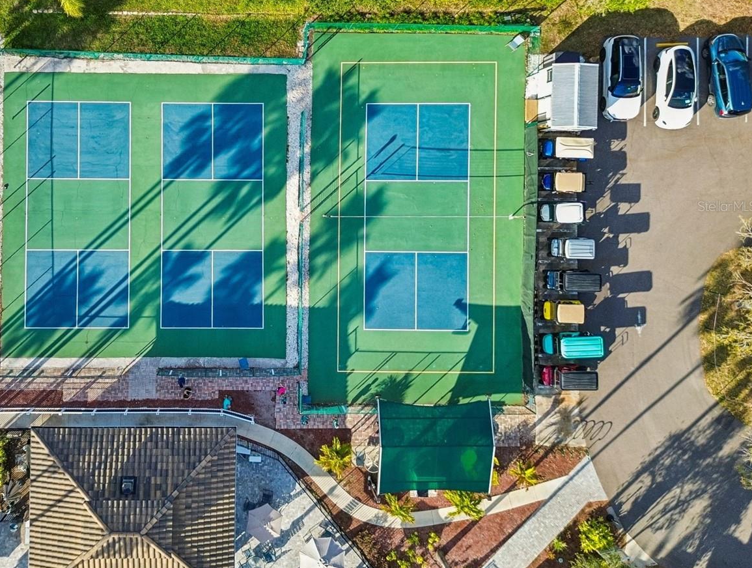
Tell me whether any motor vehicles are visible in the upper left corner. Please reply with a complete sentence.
No, there's no motor vehicle to be seen in the upper left corner.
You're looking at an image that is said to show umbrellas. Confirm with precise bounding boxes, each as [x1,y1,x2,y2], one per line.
[245,499,282,536]
[2,473,28,502]
[298,532,344,568]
